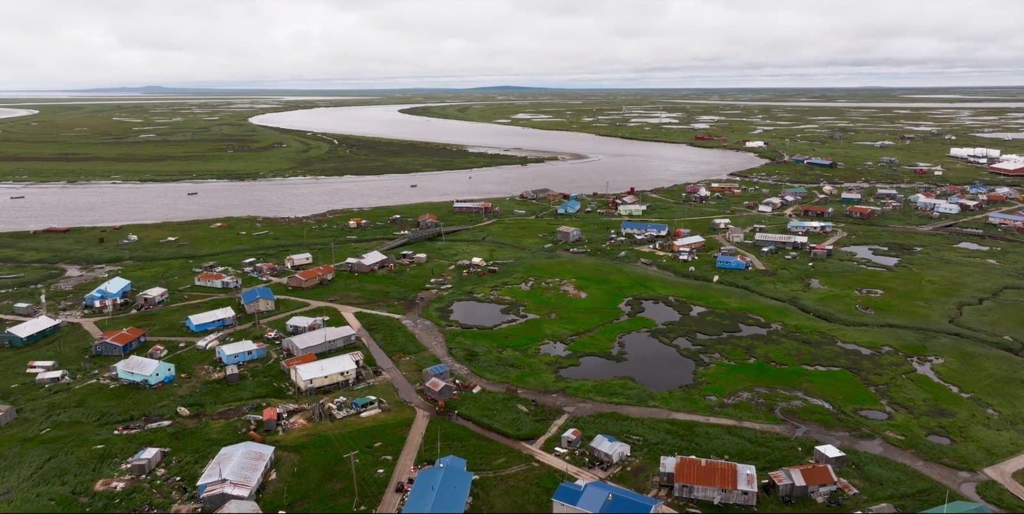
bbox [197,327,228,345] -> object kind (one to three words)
boat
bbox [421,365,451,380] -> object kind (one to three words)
shed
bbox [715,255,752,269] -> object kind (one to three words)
house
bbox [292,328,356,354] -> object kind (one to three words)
building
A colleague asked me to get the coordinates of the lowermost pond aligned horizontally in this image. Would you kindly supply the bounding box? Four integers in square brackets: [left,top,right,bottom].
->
[452,242,997,443]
